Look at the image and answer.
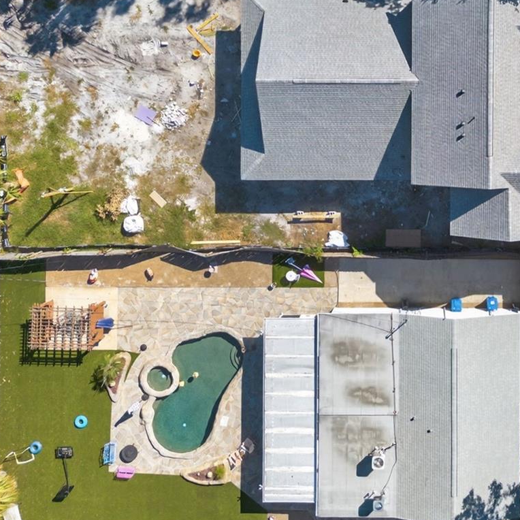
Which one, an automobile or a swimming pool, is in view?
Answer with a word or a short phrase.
swimming pool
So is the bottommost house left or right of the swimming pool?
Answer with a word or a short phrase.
to its right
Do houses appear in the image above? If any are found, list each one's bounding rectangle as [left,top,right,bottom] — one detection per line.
[264,306,520,520]
[239,0,520,241]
